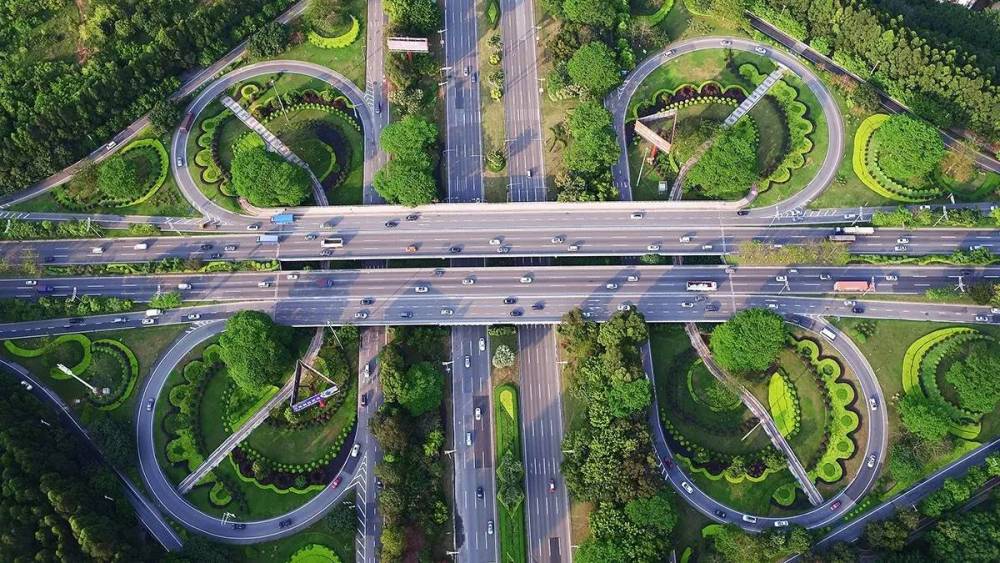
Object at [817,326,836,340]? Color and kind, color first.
white vehicle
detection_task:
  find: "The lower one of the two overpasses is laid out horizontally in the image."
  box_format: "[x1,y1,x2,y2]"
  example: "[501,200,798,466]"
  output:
[273,266,738,326]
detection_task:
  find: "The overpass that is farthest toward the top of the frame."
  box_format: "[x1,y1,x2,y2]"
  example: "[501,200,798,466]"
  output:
[277,198,730,261]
